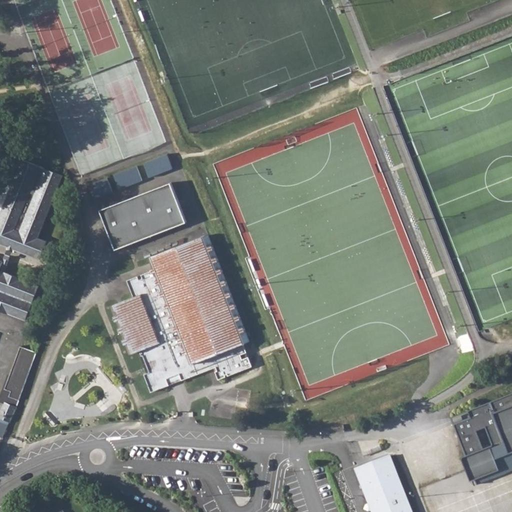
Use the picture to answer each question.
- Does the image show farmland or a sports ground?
sports ground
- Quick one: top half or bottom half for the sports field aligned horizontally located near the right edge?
top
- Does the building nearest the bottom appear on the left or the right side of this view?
right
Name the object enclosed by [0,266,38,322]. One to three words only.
house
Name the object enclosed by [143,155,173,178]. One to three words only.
shed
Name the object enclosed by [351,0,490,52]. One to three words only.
sports field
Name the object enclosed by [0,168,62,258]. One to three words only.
building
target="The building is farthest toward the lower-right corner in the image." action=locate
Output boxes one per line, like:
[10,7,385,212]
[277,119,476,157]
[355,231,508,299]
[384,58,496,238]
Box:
[452,394,512,486]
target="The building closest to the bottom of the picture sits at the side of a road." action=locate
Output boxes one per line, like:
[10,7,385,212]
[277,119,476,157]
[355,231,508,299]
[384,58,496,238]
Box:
[354,456,412,512]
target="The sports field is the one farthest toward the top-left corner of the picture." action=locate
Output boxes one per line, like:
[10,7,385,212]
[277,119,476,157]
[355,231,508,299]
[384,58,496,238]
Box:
[141,0,356,127]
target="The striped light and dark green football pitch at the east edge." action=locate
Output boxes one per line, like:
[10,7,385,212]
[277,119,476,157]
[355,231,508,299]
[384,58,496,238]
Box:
[384,38,512,332]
